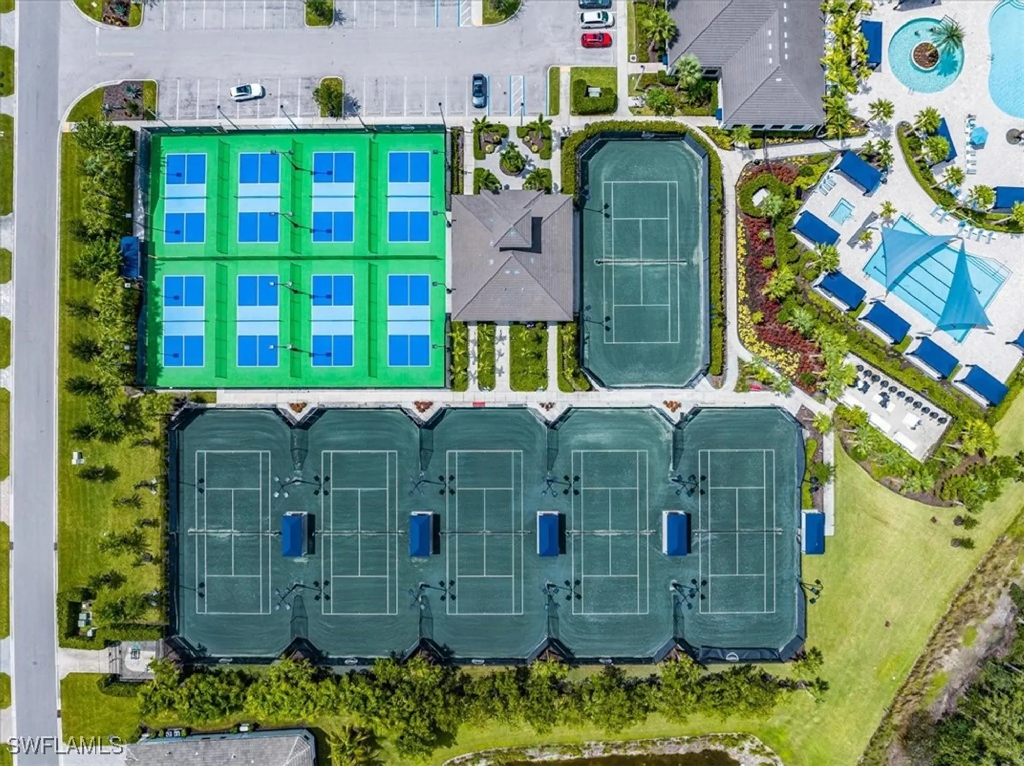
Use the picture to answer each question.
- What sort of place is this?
sports ground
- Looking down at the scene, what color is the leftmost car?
white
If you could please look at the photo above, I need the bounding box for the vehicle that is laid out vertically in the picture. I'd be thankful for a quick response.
[471,74,487,109]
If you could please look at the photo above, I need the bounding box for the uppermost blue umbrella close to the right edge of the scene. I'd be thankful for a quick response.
[965,127,987,147]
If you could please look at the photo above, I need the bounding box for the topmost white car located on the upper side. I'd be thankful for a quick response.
[580,10,614,29]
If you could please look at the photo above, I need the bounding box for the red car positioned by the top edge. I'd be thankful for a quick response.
[581,31,612,48]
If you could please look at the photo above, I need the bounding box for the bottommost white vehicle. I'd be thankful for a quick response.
[230,82,264,102]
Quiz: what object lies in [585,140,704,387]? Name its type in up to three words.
tennis court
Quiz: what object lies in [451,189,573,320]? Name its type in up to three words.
building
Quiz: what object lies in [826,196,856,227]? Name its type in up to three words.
swimming pool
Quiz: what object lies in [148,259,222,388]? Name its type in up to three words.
sports court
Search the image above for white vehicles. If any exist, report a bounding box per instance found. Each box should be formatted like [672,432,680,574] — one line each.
[580,10,614,29]
[230,82,264,102]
